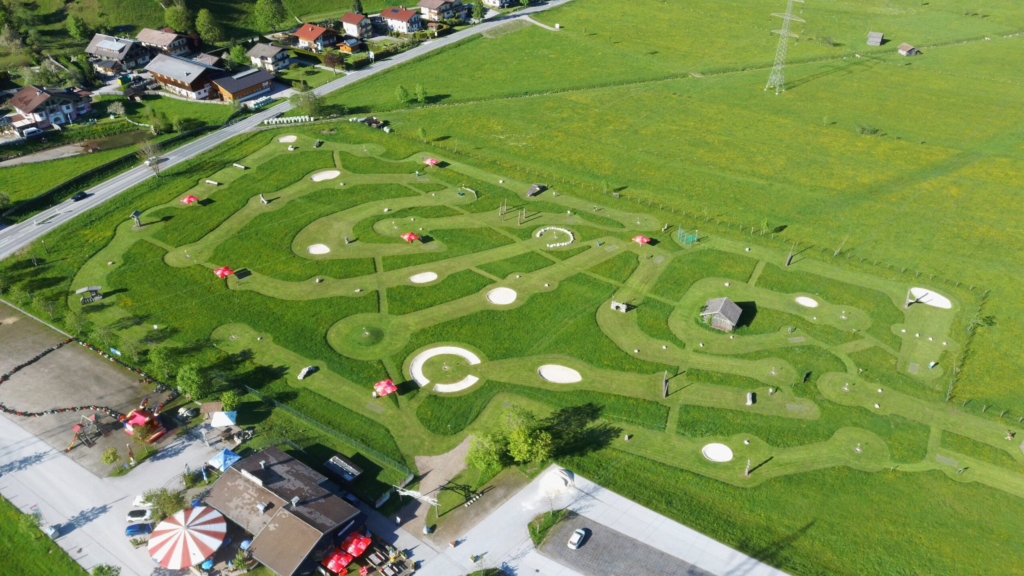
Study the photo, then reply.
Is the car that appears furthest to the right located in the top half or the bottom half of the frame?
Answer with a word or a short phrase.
bottom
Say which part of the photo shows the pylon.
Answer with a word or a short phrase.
top right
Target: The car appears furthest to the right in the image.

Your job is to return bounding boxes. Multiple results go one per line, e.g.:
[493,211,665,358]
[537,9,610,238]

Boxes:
[566,526,586,551]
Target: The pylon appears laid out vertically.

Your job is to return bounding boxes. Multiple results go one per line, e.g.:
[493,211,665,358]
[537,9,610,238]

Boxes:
[762,0,805,94]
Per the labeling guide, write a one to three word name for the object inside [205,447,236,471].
tent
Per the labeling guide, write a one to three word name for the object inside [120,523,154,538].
car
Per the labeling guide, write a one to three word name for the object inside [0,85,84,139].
house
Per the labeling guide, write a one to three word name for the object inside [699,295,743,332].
shed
